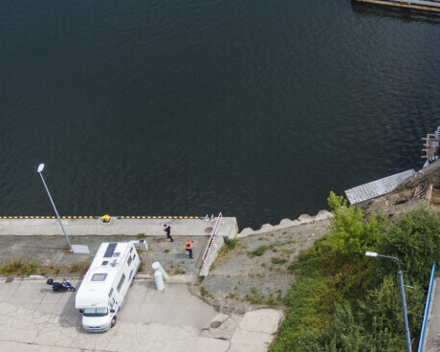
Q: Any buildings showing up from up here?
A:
No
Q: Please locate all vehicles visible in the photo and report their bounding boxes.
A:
[80,229,148,329]
[39,278,72,293]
